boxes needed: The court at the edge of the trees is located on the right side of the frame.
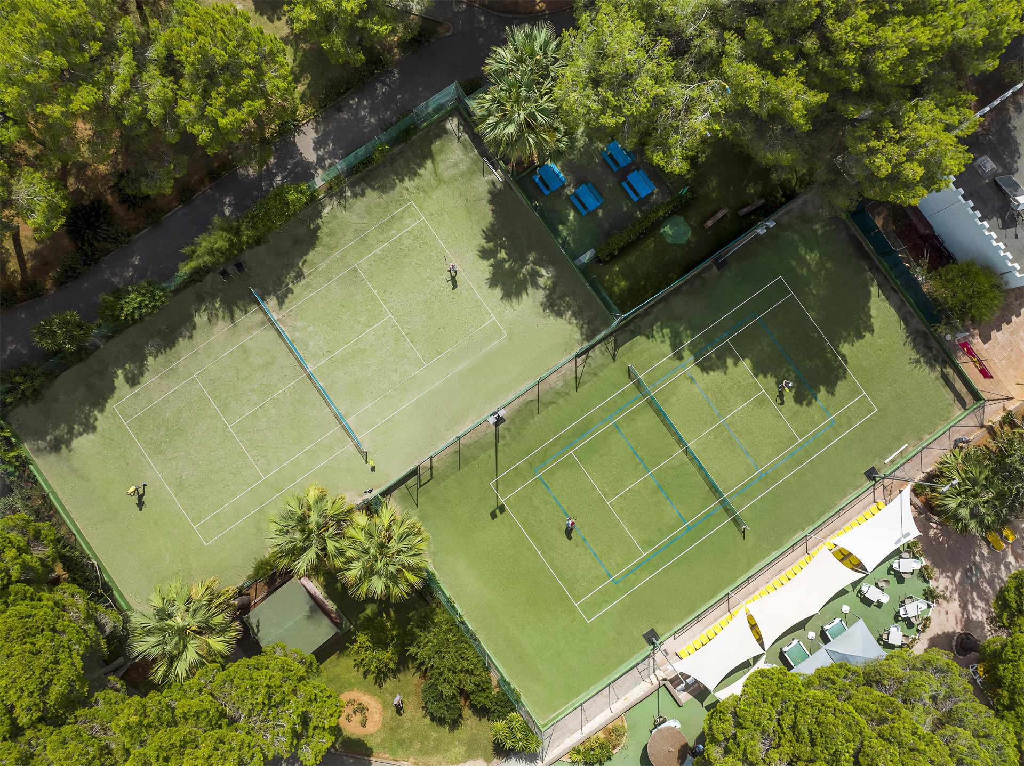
[385,188,981,726]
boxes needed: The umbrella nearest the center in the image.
[660,214,691,246]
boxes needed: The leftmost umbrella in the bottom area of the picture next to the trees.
[647,726,687,766]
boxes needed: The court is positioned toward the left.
[3,108,619,641]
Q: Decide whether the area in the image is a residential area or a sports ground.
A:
sports ground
